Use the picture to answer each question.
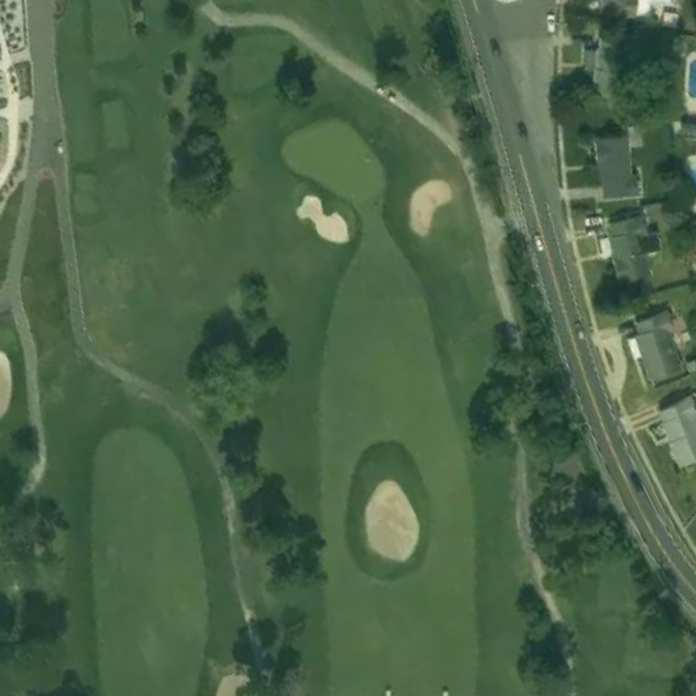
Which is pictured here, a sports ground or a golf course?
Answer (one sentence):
This image shows a golf course.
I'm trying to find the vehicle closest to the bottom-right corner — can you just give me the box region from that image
[629,473,643,493]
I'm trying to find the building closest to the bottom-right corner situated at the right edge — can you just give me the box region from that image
[660,395,696,468]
